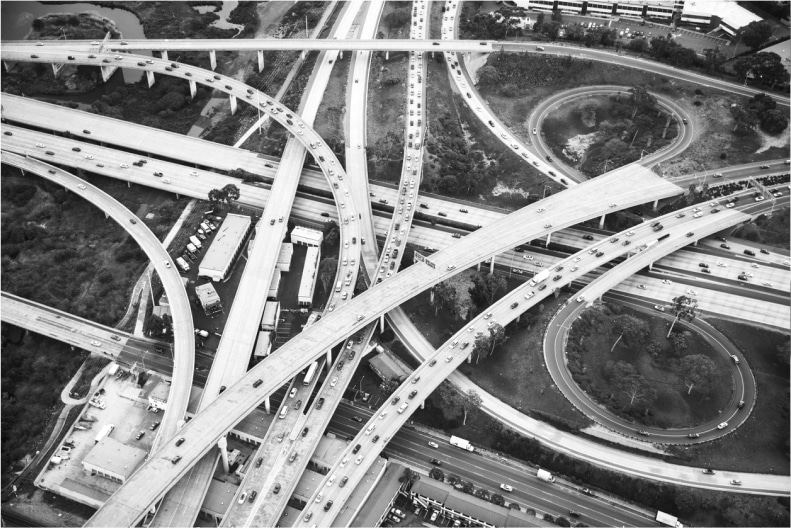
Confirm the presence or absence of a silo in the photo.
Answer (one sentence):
No, the scene contains no silo.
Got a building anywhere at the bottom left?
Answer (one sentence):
Yes, the scene does show a building at the bottom left.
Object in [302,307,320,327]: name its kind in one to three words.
vehicle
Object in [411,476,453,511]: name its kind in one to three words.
house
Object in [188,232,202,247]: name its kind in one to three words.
vehicle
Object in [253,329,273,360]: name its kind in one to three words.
shed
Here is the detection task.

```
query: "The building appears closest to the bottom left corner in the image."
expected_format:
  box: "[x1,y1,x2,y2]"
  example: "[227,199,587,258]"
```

[81,435,148,482]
